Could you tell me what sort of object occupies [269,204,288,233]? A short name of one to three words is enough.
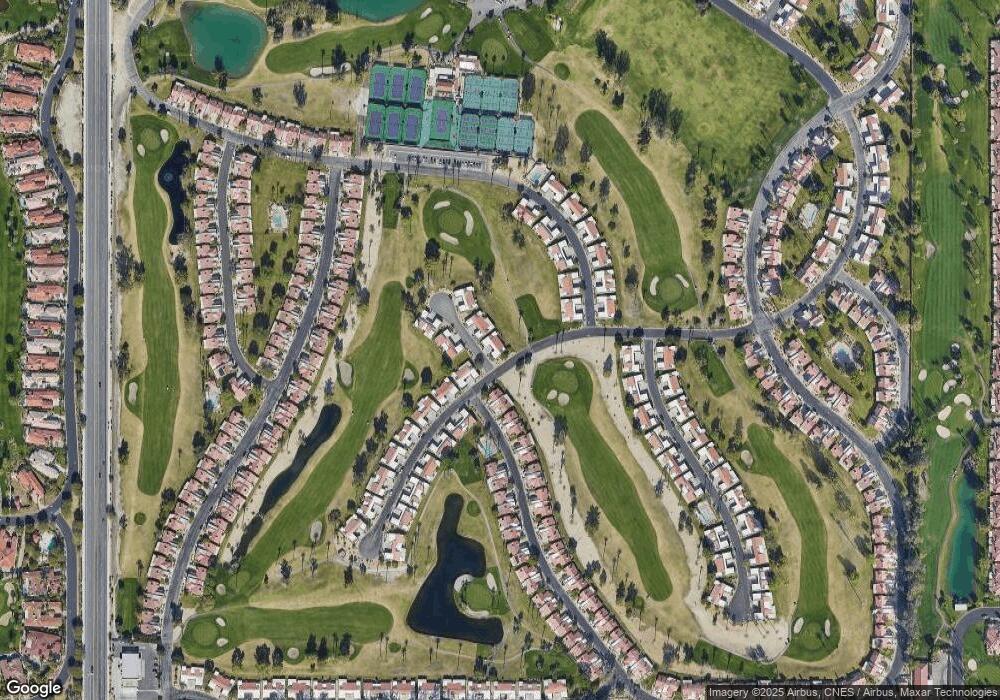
swimming pool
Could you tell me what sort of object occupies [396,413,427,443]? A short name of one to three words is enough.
house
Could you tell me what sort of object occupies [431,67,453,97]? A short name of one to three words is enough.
building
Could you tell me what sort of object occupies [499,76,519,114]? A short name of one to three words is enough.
tennis court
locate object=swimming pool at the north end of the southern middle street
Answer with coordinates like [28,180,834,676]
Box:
[479,435,498,459]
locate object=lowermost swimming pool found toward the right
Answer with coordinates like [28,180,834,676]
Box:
[696,501,718,526]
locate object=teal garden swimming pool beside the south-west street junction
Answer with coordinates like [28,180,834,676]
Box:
[40,533,57,551]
